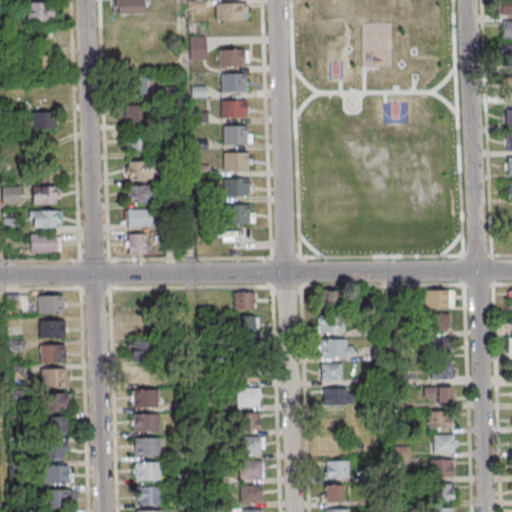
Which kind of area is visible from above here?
residential area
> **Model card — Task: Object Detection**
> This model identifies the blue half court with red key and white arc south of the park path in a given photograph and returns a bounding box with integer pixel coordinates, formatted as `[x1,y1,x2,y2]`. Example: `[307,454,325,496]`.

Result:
[384,102,408,124]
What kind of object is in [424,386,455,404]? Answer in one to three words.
house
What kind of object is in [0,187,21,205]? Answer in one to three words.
building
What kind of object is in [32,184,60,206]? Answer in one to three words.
house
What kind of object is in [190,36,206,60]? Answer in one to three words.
building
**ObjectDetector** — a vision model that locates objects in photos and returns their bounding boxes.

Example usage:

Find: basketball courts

[329,60,343,79]
[384,102,408,124]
